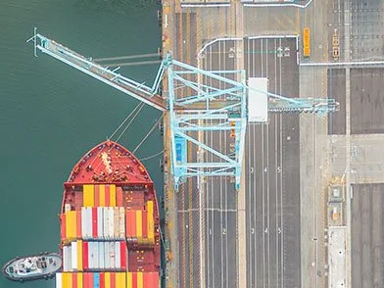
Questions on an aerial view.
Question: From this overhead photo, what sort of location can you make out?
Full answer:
The area seen from above is a port.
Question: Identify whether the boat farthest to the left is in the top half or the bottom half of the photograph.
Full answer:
The bottom half of the photo is where the boat farthest to the left is.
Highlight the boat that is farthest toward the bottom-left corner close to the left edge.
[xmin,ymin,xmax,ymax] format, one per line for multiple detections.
[3,253,60,281]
